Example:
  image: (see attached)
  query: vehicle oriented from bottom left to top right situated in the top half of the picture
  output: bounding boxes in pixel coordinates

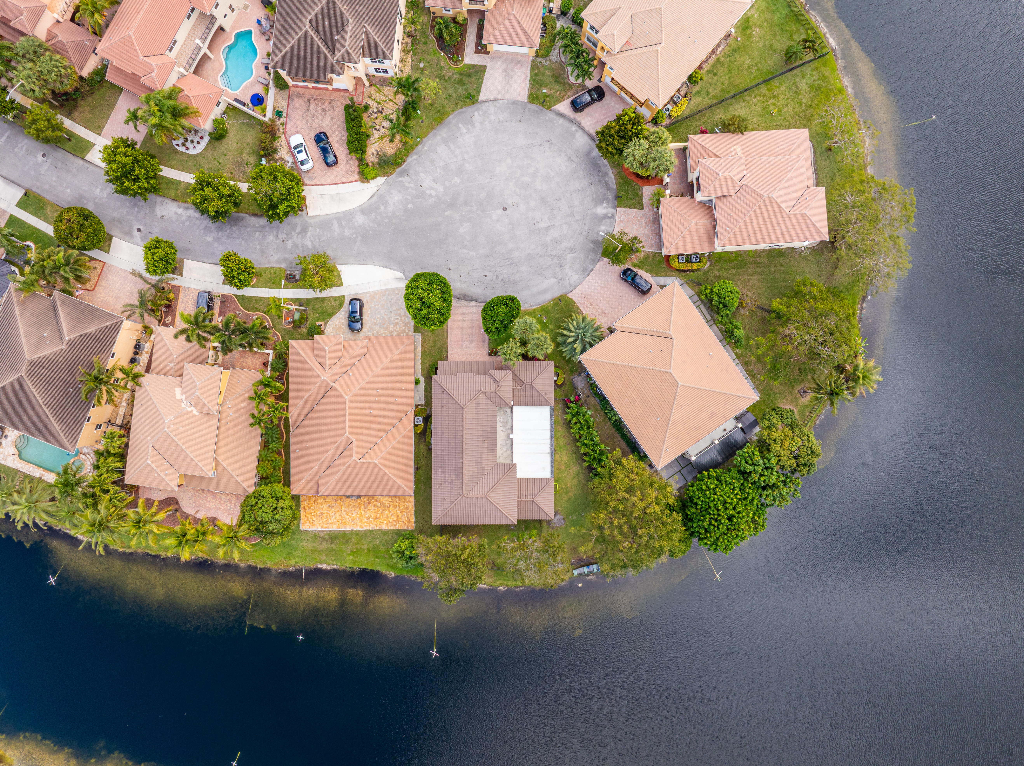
[570,84,605,114]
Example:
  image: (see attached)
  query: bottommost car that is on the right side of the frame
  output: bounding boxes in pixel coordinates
[620,268,653,295]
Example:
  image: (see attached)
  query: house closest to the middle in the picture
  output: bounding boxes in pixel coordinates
[432,360,555,526]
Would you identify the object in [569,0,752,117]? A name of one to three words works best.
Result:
house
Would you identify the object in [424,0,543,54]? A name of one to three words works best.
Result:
house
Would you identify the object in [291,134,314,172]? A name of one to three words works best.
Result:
car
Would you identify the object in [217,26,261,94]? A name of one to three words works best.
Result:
swimming pool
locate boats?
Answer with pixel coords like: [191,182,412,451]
[573,564,600,577]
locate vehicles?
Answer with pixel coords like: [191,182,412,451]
[570,84,605,114]
[291,134,314,172]
[315,131,338,168]
[347,298,364,332]
[620,268,653,295]
[196,289,216,324]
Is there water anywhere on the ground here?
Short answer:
Yes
